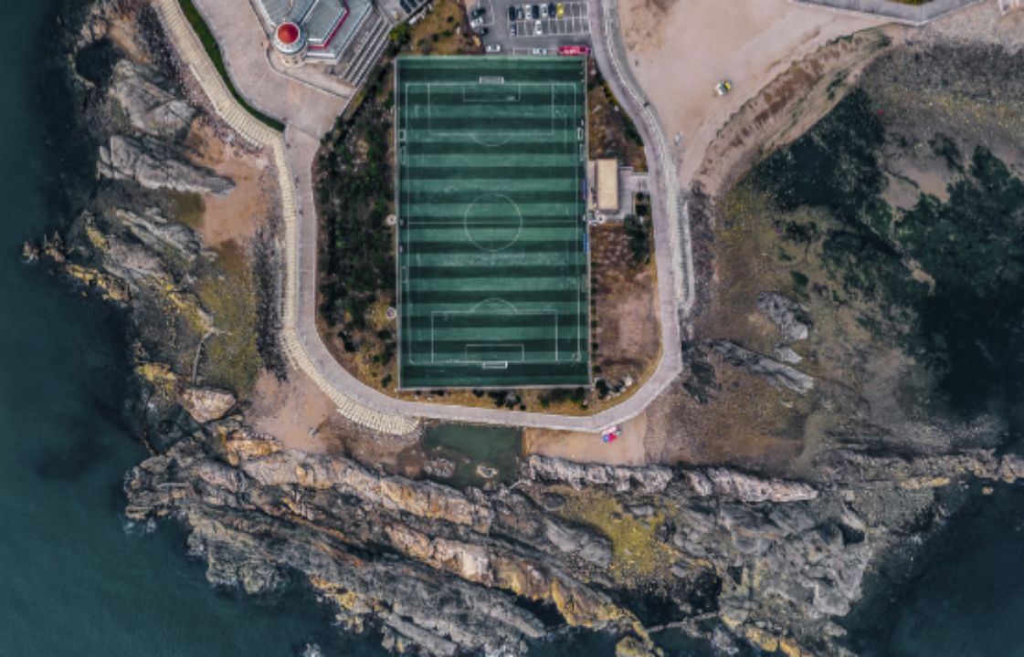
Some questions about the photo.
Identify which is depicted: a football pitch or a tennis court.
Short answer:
football pitch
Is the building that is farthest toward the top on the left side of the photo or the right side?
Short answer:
left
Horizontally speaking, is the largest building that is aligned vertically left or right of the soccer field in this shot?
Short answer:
right of it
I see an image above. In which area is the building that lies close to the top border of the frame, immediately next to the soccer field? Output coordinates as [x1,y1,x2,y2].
[249,0,378,67]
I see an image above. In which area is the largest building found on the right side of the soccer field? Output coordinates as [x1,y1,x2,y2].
[597,158,619,211]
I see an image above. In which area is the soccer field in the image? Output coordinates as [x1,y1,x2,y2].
[398,55,589,388]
